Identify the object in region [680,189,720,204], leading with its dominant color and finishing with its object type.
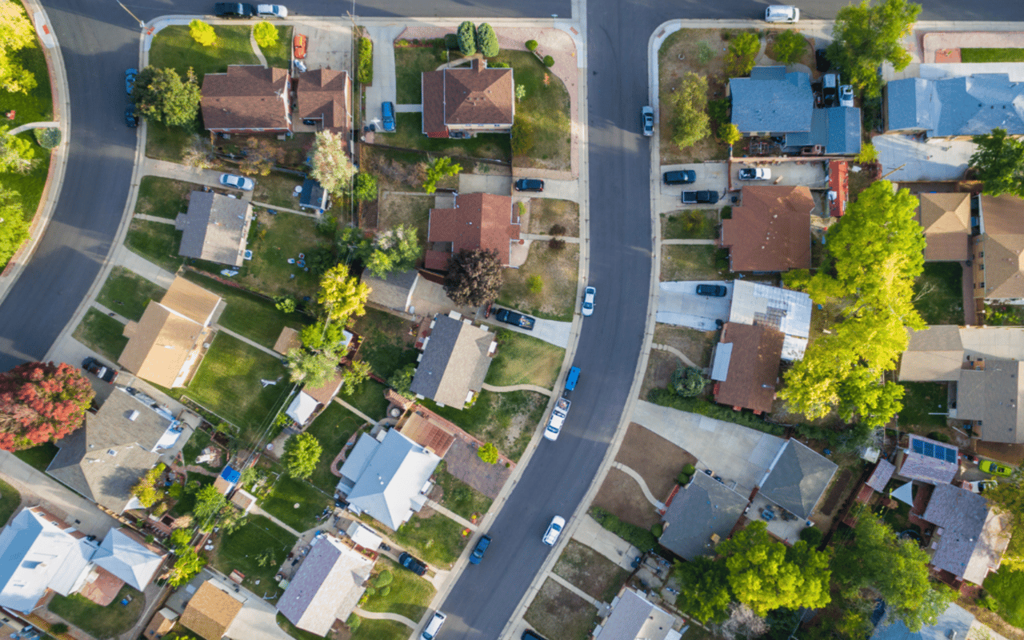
black vehicle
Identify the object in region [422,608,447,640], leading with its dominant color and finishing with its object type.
white vehicle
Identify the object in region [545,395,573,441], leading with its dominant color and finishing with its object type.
white truck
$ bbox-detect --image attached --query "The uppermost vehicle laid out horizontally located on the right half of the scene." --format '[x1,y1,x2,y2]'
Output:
[764,5,799,21]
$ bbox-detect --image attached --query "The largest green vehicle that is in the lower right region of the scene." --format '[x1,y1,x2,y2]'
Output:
[978,459,1013,475]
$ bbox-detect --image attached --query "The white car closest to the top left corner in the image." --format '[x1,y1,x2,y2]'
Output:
[256,2,288,19]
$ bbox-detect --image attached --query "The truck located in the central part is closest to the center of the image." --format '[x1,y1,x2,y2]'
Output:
[494,307,536,331]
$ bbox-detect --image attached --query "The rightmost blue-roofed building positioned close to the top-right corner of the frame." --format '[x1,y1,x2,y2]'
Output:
[880,70,1024,139]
